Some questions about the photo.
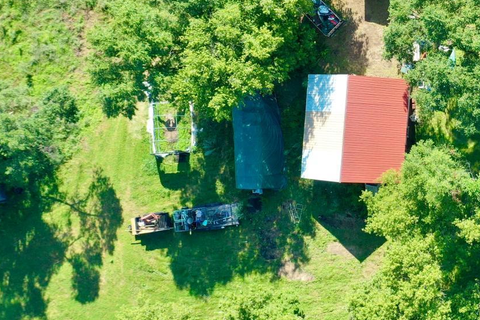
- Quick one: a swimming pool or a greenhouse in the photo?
greenhouse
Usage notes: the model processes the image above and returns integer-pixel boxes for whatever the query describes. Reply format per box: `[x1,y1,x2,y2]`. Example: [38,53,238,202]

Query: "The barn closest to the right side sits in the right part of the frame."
[302,73,414,185]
